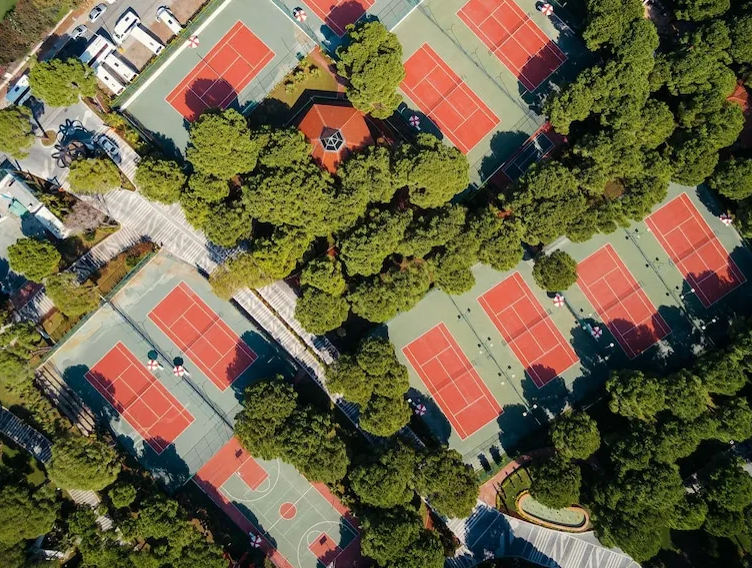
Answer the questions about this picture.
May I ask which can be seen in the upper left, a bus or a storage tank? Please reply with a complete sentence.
The one visible in the upper left is a bus.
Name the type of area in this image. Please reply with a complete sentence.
What you see here is a sports ground.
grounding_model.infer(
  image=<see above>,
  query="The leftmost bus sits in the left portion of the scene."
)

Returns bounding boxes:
[3,73,40,106]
